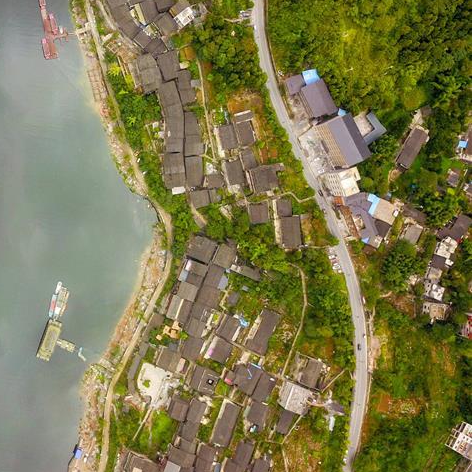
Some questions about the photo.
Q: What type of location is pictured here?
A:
residential area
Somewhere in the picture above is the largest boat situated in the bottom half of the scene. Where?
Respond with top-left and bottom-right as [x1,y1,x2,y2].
[52,288,64,320]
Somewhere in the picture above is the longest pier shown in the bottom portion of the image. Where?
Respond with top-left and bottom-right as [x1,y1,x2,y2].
[37,320,62,361]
